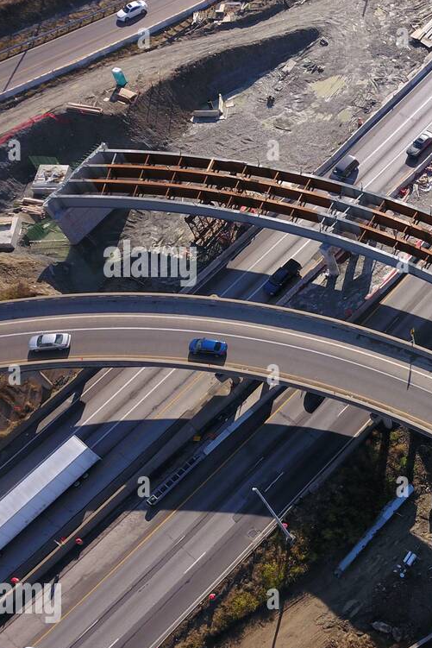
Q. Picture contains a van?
Yes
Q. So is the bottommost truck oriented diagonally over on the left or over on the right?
left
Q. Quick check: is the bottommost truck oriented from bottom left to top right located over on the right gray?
No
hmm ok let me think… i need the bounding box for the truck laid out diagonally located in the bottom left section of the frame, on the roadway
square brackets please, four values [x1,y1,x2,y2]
[0,450,102,568]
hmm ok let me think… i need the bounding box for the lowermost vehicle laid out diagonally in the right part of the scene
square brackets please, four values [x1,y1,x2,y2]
[260,259,301,297]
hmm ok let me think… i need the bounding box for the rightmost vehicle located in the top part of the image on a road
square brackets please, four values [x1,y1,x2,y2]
[407,130,432,154]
